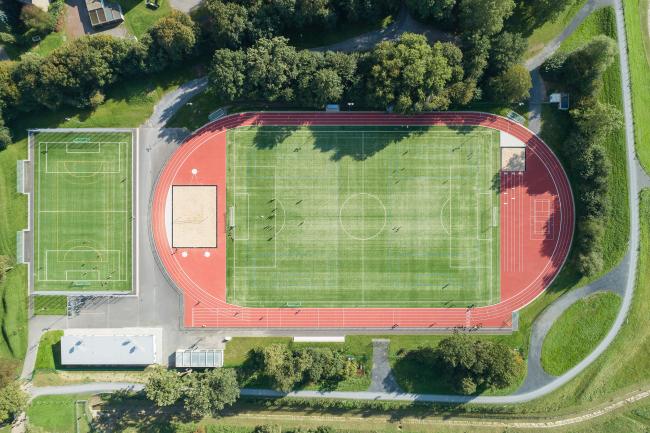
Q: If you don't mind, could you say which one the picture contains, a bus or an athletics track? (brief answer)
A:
athletics track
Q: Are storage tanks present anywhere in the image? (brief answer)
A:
No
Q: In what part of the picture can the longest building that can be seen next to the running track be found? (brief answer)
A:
bottom left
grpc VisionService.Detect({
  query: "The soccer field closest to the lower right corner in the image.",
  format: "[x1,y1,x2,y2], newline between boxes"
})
[226,126,500,307]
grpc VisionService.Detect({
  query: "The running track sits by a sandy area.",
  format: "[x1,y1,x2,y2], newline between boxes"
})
[150,111,576,328]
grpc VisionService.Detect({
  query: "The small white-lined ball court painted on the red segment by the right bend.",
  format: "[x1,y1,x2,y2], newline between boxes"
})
[529,194,554,241]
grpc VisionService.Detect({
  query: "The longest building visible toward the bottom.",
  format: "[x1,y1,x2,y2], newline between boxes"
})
[61,335,157,364]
